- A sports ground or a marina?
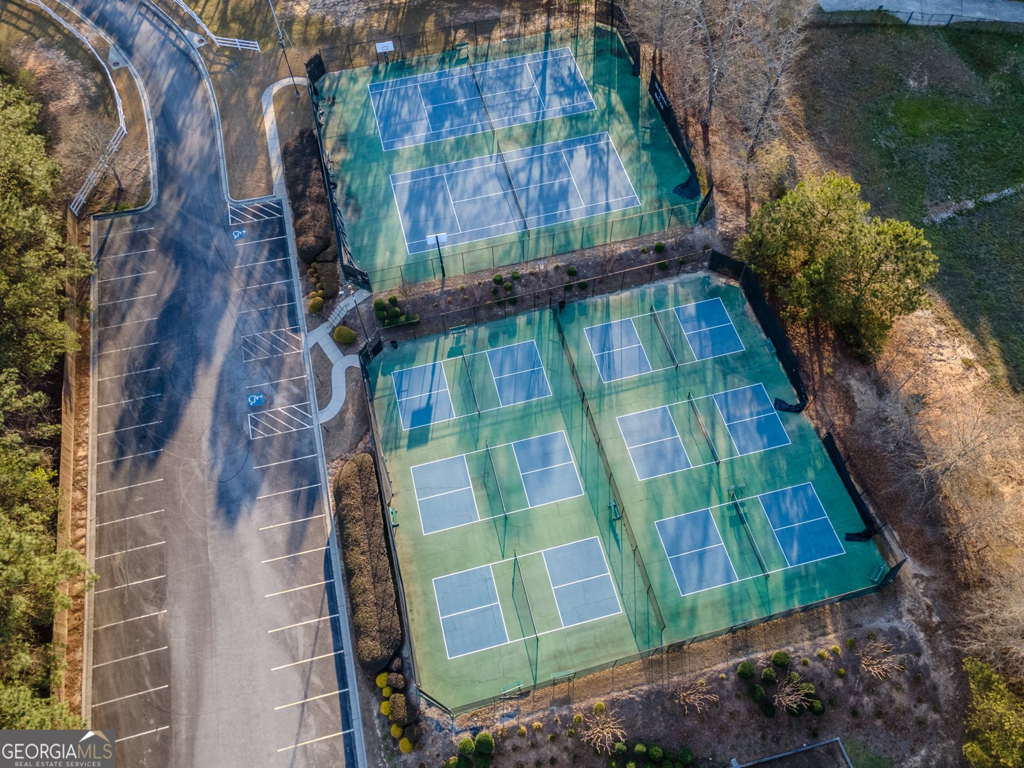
sports ground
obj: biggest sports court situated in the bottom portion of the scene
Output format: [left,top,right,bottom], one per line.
[369,270,888,716]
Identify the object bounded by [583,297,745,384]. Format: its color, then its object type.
blue sports court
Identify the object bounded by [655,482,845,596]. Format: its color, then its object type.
blue sports court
